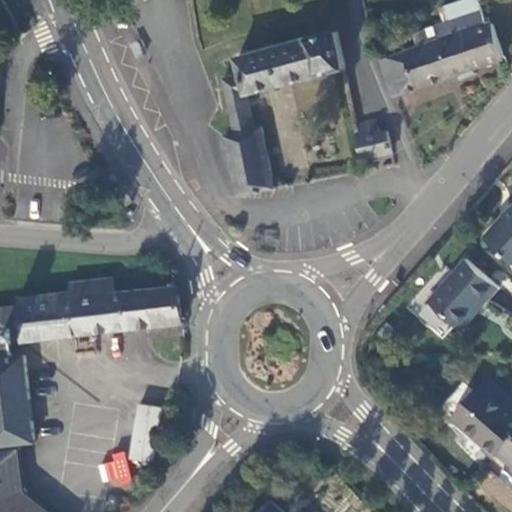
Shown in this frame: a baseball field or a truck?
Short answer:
truck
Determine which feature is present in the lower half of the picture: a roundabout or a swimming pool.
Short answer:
roundabout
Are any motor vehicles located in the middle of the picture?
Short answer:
Yes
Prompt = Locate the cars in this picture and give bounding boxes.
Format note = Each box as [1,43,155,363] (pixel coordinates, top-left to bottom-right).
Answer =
[36,367,58,378]
[230,248,249,268]
[30,197,40,217]
[40,426,61,436]
[111,336,122,356]
[318,330,332,350]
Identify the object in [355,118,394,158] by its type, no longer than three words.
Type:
house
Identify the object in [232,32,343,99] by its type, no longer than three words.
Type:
house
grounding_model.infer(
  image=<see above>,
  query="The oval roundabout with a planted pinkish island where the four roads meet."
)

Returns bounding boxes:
[198,261,353,446]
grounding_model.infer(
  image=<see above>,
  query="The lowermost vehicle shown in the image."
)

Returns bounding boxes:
[94,450,130,484]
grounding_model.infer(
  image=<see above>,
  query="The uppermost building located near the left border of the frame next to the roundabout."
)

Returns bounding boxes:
[14,277,184,352]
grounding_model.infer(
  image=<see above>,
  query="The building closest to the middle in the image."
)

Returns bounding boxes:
[223,129,269,190]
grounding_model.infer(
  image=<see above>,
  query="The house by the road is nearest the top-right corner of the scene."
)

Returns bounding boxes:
[388,0,502,92]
